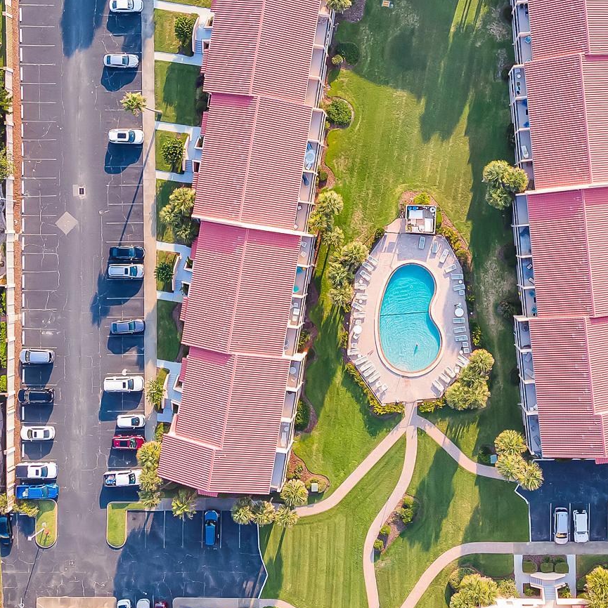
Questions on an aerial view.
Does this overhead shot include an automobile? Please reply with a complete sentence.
Yes, looking at the shot, I can spot an automobile.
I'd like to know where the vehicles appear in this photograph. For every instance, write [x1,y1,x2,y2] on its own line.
[572,506,589,540]
[19,483,60,500]
[109,0,145,14]
[117,414,148,429]
[104,52,141,68]
[108,262,146,279]
[103,470,141,487]
[0,510,16,545]
[110,245,146,261]
[104,375,144,392]
[118,596,134,608]
[22,348,57,364]
[552,505,569,542]
[111,319,146,335]
[22,424,59,440]
[18,463,59,479]
[204,508,220,545]
[21,388,56,404]
[110,127,145,143]
[139,596,153,608]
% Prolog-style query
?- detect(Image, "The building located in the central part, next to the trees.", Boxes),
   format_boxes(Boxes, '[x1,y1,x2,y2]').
[158,0,342,497]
